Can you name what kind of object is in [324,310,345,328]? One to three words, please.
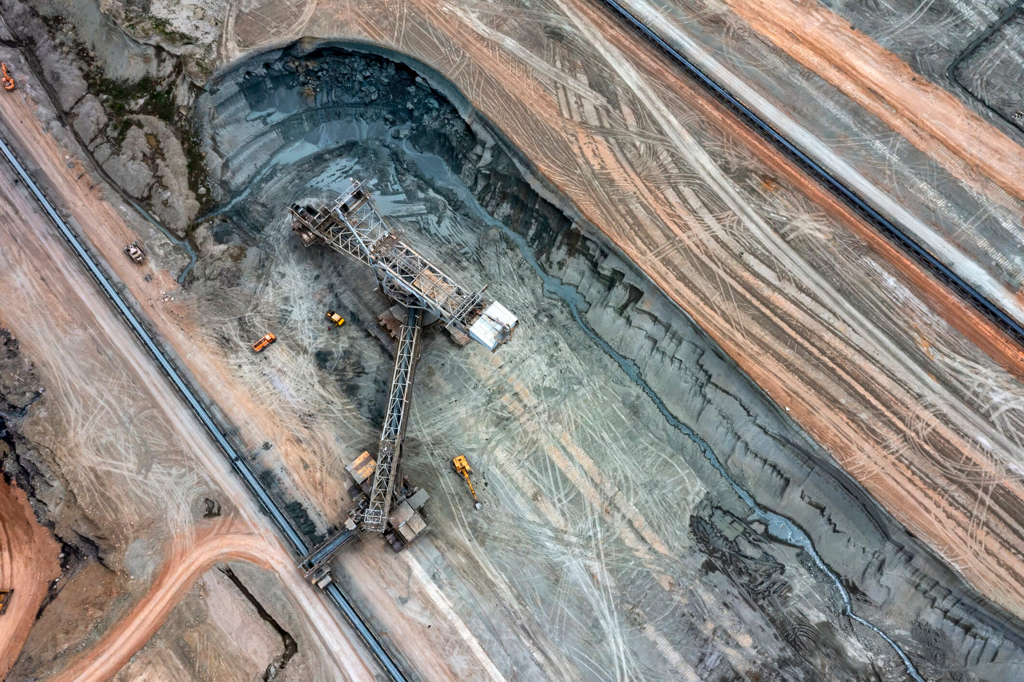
work vehicle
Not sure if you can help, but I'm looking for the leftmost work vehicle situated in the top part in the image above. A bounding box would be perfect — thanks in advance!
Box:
[0,61,22,97]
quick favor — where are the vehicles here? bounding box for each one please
[450,457,483,517]
[287,176,521,531]
[119,240,145,267]
[248,332,278,354]
[324,310,345,328]
[0,587,13,613]
[0,61,22,97]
